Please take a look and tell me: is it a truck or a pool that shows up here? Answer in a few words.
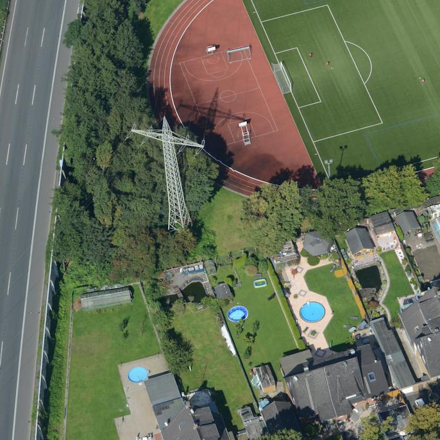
pool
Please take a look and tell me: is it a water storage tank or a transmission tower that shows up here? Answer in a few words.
transmission tower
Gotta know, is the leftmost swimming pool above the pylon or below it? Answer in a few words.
below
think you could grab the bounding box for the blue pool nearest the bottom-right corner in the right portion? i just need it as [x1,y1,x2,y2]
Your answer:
[299,301,325,322]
